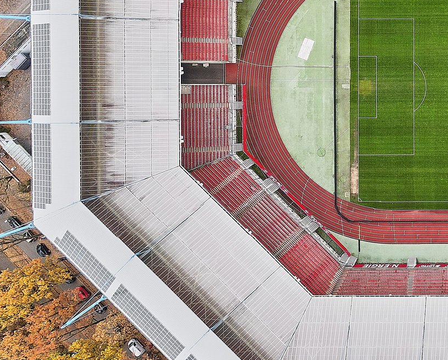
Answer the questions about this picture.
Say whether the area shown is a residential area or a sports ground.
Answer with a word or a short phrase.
sports ground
